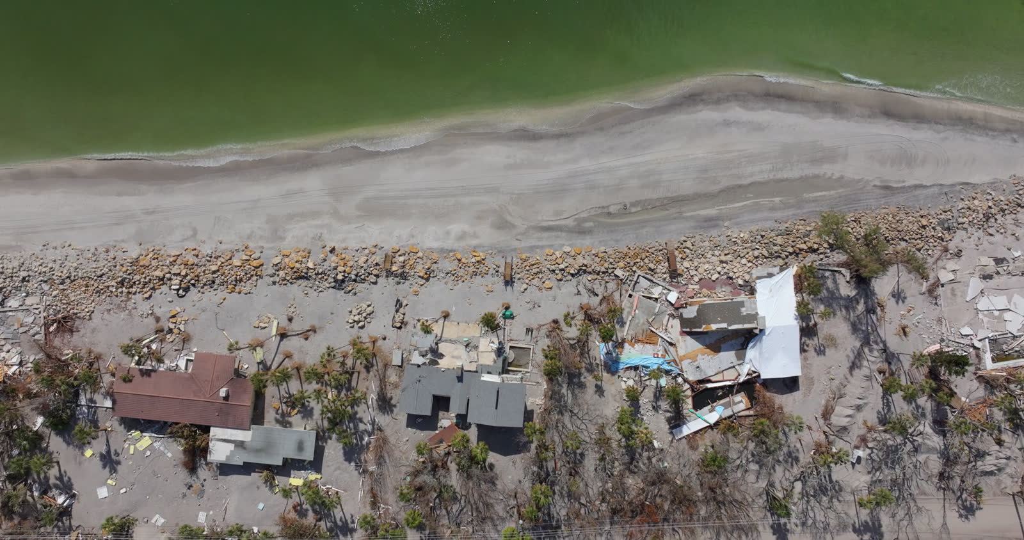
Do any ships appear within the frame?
No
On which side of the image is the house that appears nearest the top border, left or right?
right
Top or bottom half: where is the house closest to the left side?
bottom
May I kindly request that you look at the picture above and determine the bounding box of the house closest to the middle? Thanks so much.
[399,357,526,428]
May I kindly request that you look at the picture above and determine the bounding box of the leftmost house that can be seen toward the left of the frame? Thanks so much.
[112,352,257,429]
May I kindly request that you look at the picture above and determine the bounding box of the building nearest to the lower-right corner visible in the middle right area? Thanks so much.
[739,267,801,381]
